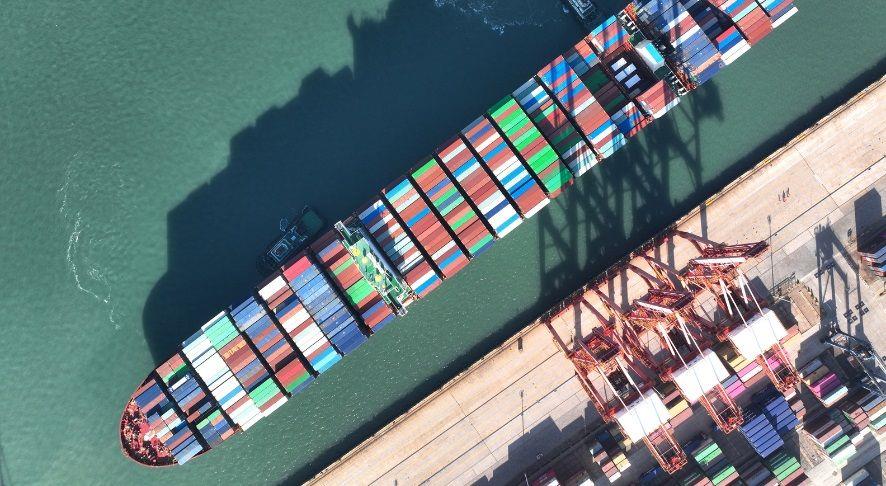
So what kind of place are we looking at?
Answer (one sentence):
The picture captures a port.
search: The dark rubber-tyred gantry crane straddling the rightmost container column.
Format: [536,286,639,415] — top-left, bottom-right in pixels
[820,328,886,401]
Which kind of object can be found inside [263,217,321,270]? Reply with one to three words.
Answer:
boat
